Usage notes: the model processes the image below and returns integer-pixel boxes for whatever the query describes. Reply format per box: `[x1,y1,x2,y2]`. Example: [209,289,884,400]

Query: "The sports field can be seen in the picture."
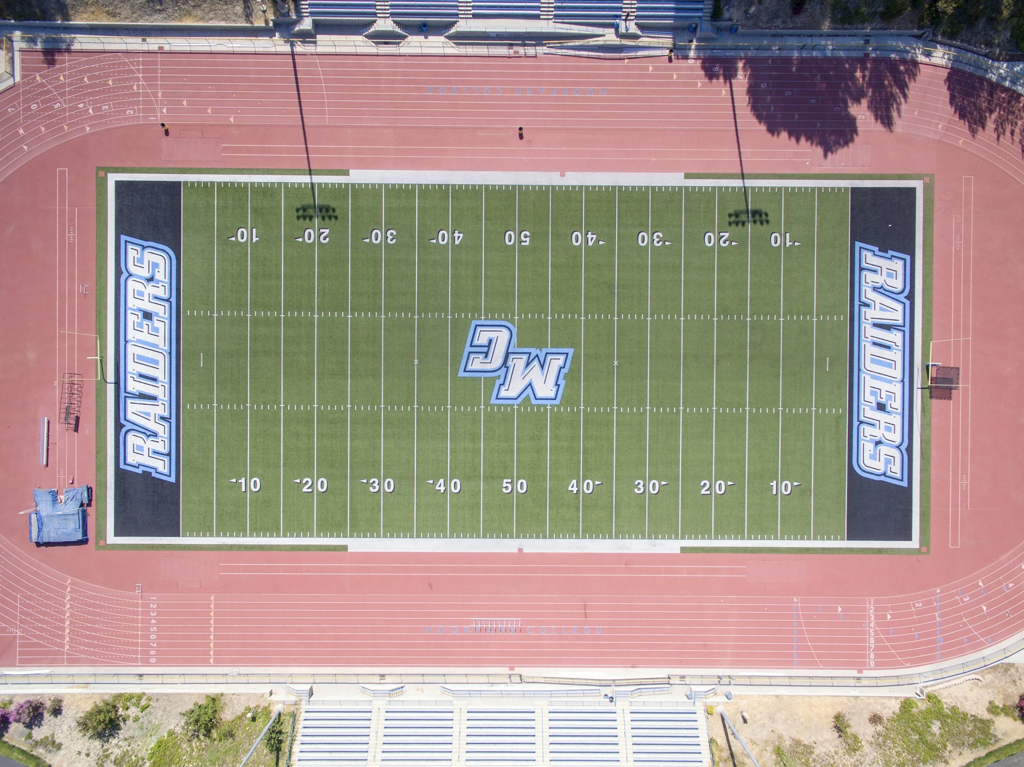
[95,167,934,555]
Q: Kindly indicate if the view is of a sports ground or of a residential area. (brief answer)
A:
sports ground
